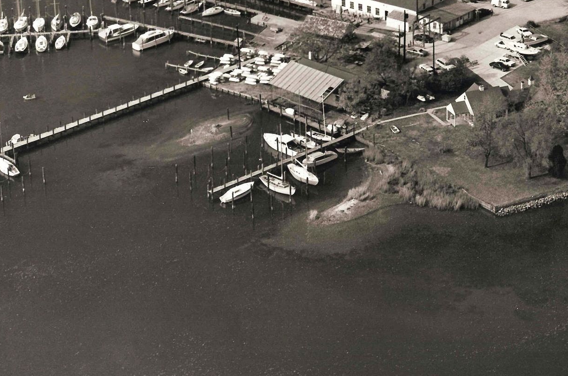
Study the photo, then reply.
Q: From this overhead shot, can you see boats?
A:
Yes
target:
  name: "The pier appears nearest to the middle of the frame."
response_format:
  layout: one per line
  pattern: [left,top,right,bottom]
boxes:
[208,119,385,199]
